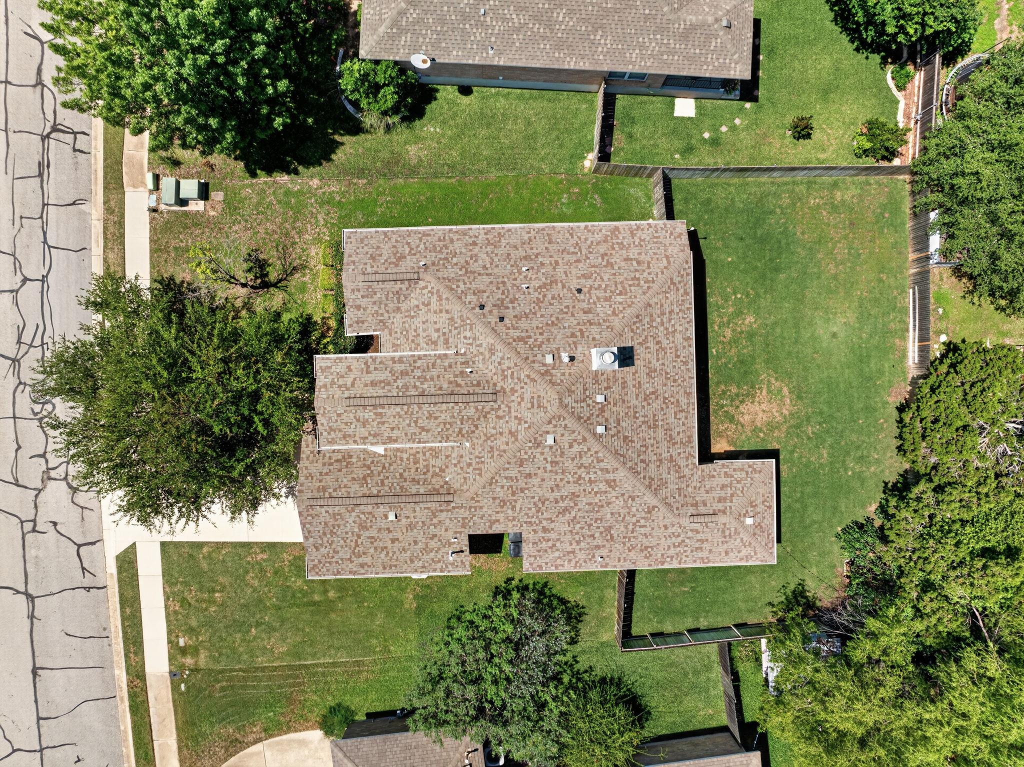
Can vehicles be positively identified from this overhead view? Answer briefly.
No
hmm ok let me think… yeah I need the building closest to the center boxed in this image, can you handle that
[296,218,779,581]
